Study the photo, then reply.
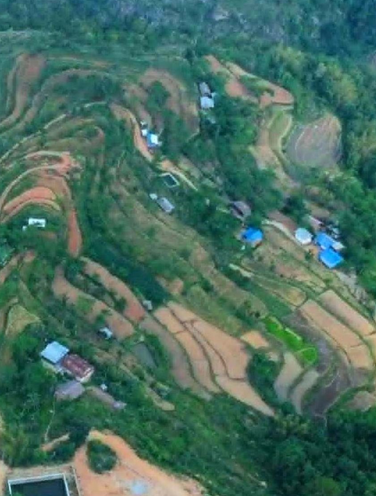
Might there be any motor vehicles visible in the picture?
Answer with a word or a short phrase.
No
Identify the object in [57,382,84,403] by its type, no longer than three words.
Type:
barn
